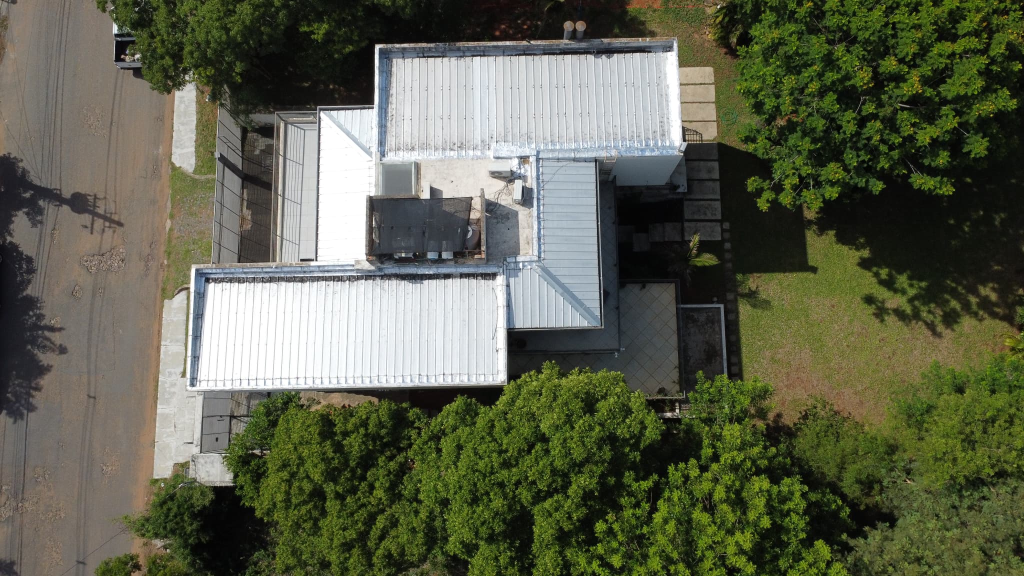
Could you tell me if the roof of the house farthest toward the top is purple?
No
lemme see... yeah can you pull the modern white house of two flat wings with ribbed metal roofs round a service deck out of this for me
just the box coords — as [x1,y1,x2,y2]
[187,38,684,390]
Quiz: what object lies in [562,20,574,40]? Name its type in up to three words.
chimney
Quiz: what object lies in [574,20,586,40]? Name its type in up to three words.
chimney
